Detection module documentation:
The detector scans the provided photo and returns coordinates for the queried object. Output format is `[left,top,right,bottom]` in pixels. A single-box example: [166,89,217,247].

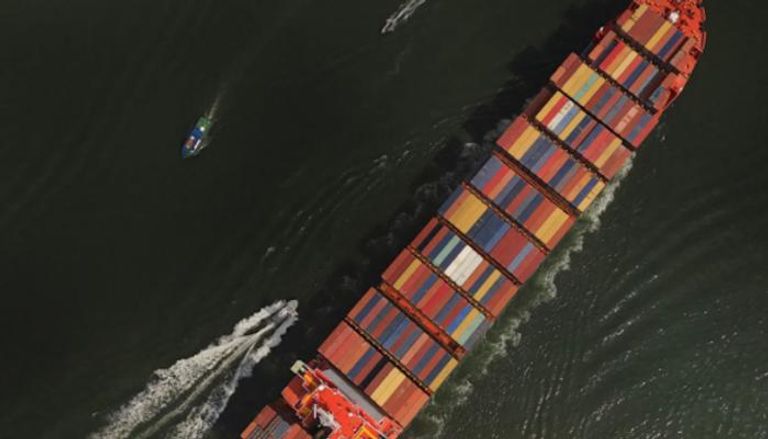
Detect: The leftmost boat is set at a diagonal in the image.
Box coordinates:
[181,113,212,157]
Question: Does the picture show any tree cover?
No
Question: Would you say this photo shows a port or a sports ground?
port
